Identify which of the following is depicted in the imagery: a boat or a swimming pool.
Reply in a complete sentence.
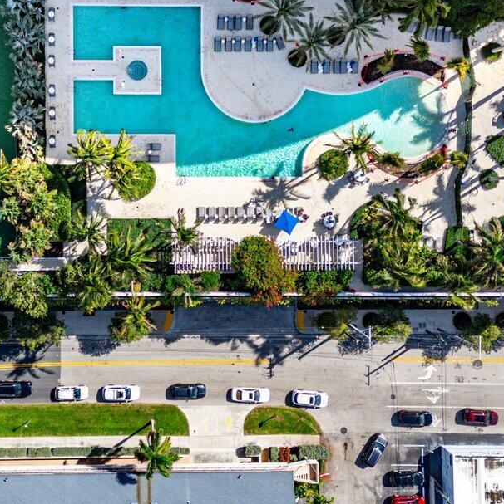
The image shows a swimming pool.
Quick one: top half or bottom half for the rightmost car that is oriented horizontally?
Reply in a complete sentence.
You can find the rightmost car that is oriented horizontally in the bottom half.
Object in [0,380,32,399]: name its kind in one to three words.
car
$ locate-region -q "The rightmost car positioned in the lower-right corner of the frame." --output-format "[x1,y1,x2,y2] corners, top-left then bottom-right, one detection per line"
[461,408,501,428]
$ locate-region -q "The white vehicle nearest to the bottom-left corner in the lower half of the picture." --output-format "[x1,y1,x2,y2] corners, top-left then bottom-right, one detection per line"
[52,384,89,403]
